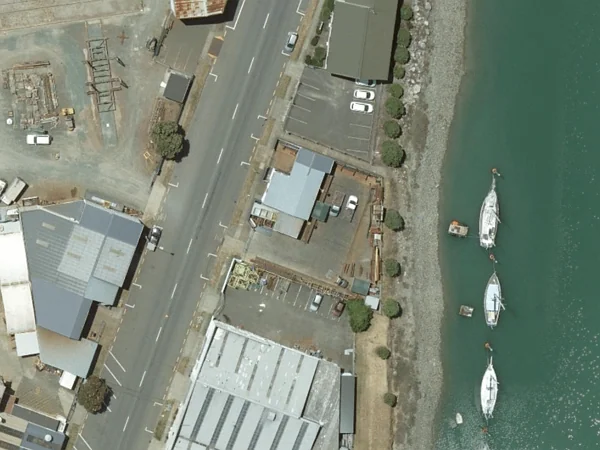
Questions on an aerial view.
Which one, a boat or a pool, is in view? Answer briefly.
boat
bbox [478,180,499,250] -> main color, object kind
white boat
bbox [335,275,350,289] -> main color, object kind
gray vehicle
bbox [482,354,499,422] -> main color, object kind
white boat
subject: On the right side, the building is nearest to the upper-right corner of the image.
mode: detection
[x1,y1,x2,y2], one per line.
[330,0,398,80]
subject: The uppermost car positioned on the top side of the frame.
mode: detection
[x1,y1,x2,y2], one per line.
[283,33,297,54]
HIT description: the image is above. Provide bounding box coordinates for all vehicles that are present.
[0,174,30,206]
[343,193,359,220]
[26,134,51,145]
[356,79,376,88]
[283,33,297,54]
[331,298,346,320]
[353,90,374,100]
[329,187,349,214]
[335,275,350,289]
[145,224,162,251]
[309,291,324,314]
[350,102,373,112]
